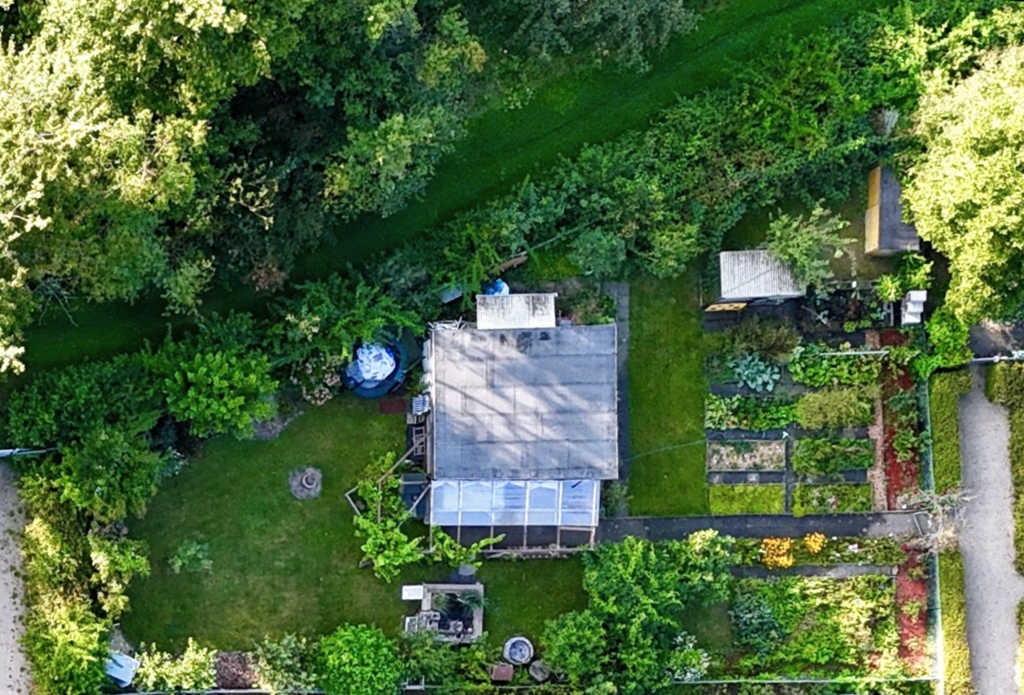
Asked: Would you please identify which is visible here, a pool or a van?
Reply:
pool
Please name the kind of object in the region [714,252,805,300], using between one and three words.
shed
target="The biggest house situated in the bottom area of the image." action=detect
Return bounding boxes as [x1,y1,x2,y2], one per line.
[426,325,618,523]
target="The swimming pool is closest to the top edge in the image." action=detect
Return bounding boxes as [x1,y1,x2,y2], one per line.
[343,333,408,396]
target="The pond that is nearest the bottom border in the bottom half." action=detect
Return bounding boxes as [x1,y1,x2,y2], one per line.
[421,585,484,642]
